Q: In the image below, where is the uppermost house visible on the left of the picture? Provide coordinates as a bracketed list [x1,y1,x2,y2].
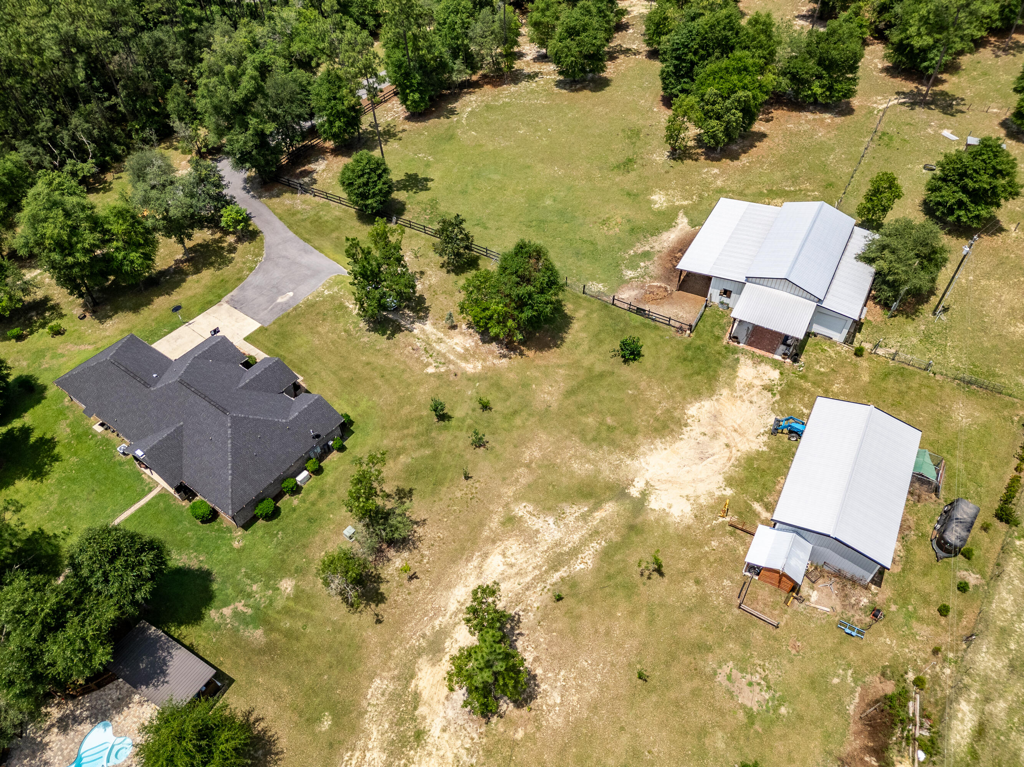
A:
[53,332,344,529]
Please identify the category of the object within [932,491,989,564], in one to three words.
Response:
trailer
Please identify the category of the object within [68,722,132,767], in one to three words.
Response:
swimming pool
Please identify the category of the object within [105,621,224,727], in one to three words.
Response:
building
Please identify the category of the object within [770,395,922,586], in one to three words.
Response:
barn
